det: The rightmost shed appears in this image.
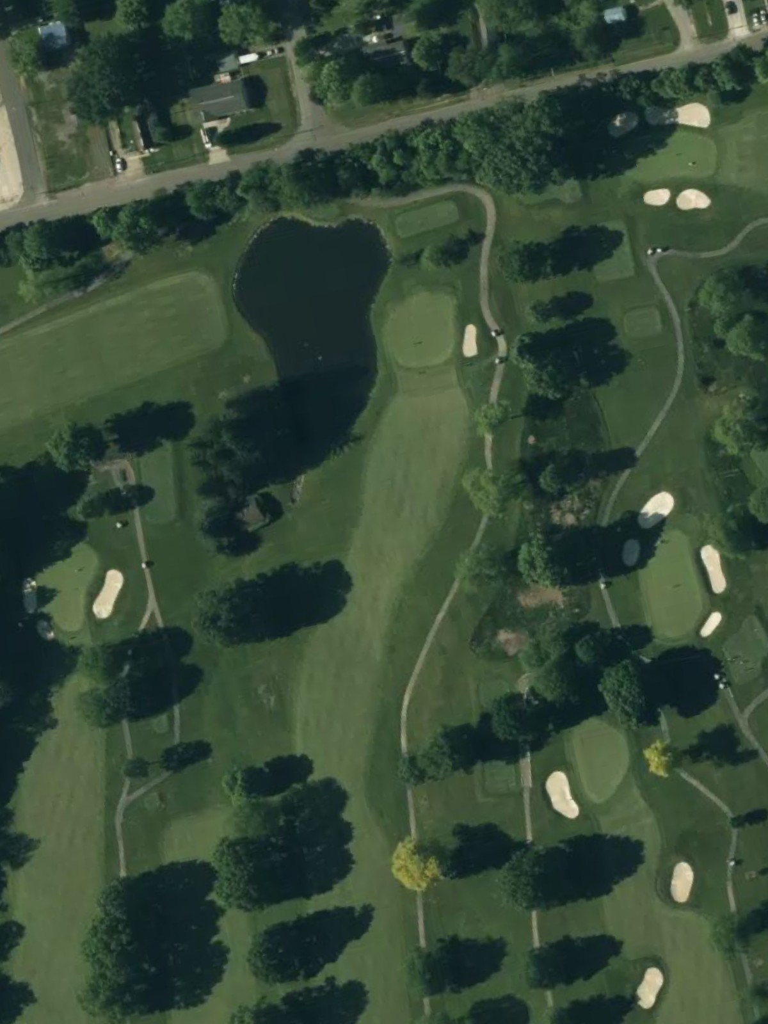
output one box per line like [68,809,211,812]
[604,5,626,24]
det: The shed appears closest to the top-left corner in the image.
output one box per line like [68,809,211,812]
[39,25,67,50]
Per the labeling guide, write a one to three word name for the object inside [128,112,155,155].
house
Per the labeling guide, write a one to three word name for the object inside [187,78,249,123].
house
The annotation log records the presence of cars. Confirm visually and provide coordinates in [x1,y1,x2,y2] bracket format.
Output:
[116,158,122,170]
[760,10,766,22]
[728,1,735,14]
[752,14,758,26]
[267,48,279,55]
